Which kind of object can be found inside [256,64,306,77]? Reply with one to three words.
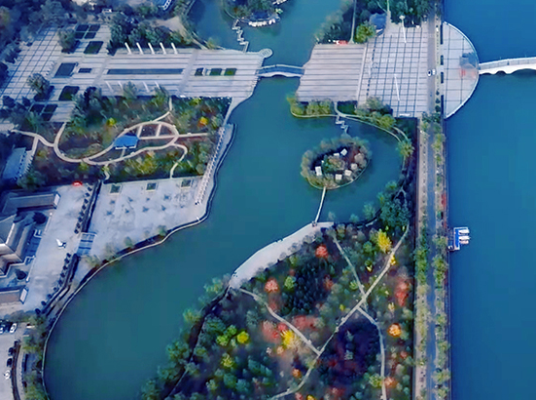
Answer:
bridge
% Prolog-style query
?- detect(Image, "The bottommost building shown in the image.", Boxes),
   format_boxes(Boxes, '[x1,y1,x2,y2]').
[0,288,30,307]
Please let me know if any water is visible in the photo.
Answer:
Yes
